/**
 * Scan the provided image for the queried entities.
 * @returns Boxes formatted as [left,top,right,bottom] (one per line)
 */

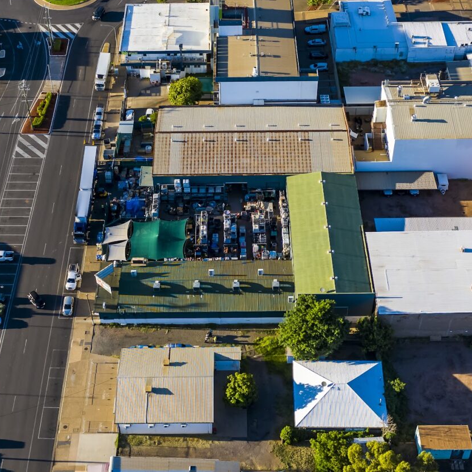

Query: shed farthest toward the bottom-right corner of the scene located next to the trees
[417,424,472,460]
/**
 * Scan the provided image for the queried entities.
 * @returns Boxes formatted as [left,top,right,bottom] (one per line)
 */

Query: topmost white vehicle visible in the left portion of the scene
[93,53,110,91]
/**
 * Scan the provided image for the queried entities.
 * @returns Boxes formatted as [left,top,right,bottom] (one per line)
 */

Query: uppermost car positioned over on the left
[92,4,106,20]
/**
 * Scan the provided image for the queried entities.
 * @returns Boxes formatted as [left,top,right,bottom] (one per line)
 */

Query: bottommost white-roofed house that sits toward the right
[294,360,387,435]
